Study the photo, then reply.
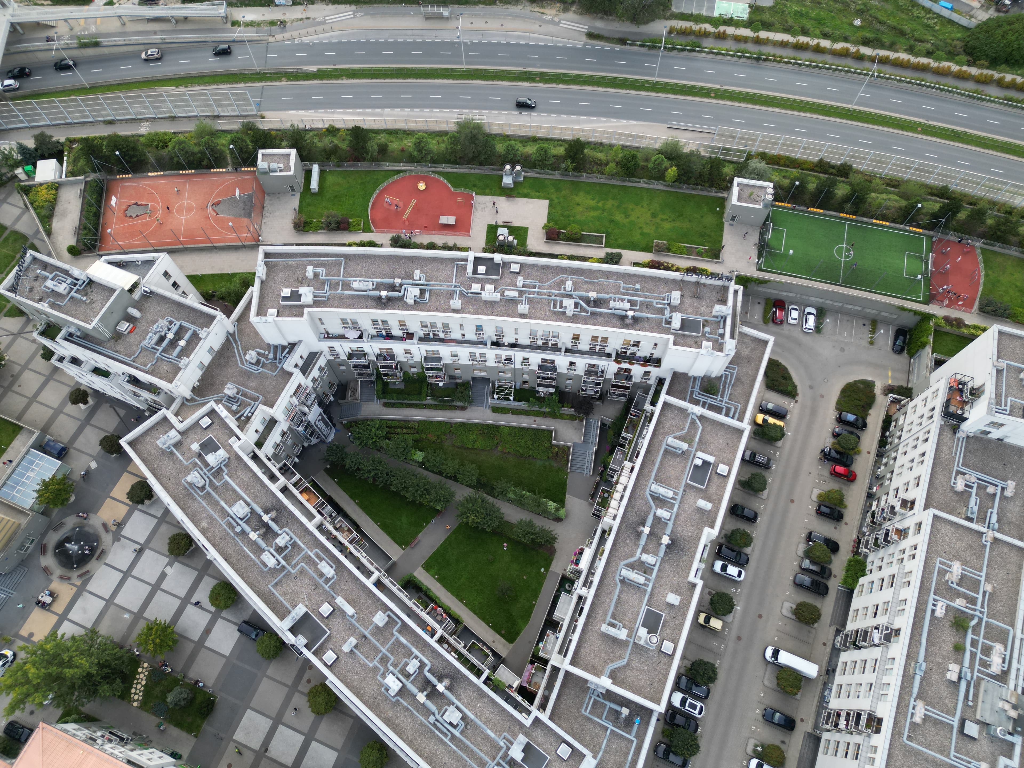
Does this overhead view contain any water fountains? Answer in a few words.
Yes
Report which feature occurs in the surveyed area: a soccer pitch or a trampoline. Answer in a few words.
soccer pitch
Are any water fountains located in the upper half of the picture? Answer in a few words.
No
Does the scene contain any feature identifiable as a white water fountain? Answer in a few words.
No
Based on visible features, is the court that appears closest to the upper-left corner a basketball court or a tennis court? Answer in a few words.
basketball court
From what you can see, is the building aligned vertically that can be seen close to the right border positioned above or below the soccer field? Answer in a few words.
below it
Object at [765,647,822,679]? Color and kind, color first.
white van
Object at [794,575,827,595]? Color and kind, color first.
black car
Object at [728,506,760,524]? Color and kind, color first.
black car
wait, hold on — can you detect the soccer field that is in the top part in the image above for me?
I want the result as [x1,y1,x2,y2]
[757,207,932,304]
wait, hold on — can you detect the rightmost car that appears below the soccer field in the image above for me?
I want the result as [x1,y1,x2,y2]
[892,328,907,355]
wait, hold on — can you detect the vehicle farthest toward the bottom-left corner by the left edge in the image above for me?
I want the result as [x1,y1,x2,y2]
[2,720,33,743]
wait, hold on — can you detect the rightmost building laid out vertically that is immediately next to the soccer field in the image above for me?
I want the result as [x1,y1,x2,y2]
[816,324,1024,768]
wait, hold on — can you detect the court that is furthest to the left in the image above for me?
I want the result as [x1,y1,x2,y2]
[98,171,266,251]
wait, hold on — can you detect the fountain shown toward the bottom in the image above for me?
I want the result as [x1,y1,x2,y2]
[52,524,100,571]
